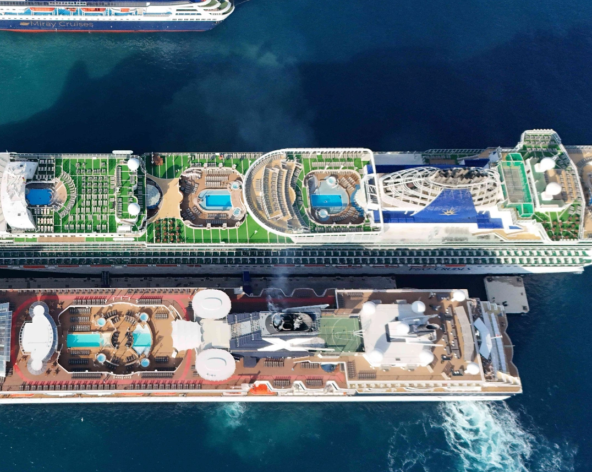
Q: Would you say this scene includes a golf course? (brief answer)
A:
No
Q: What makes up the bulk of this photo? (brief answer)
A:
water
